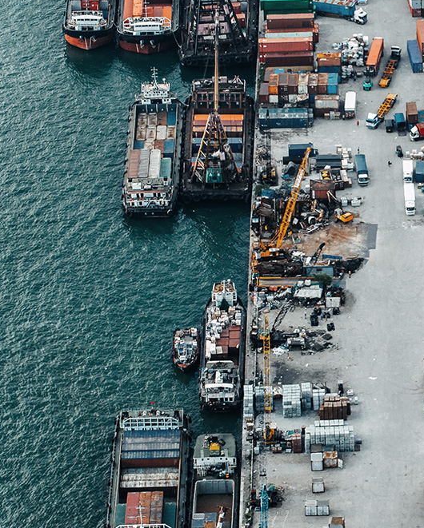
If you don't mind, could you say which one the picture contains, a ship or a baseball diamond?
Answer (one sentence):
I can see a ship in this picture.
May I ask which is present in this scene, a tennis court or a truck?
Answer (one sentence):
The image shows a truck.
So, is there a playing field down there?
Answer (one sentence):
No, the picture doesn't show any playing field.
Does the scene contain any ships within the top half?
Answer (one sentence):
Yes, within the top half there is a ship.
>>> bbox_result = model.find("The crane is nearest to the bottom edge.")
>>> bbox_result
[255,483,273,528]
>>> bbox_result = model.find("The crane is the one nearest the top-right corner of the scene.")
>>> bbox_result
[256,144,312,258]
